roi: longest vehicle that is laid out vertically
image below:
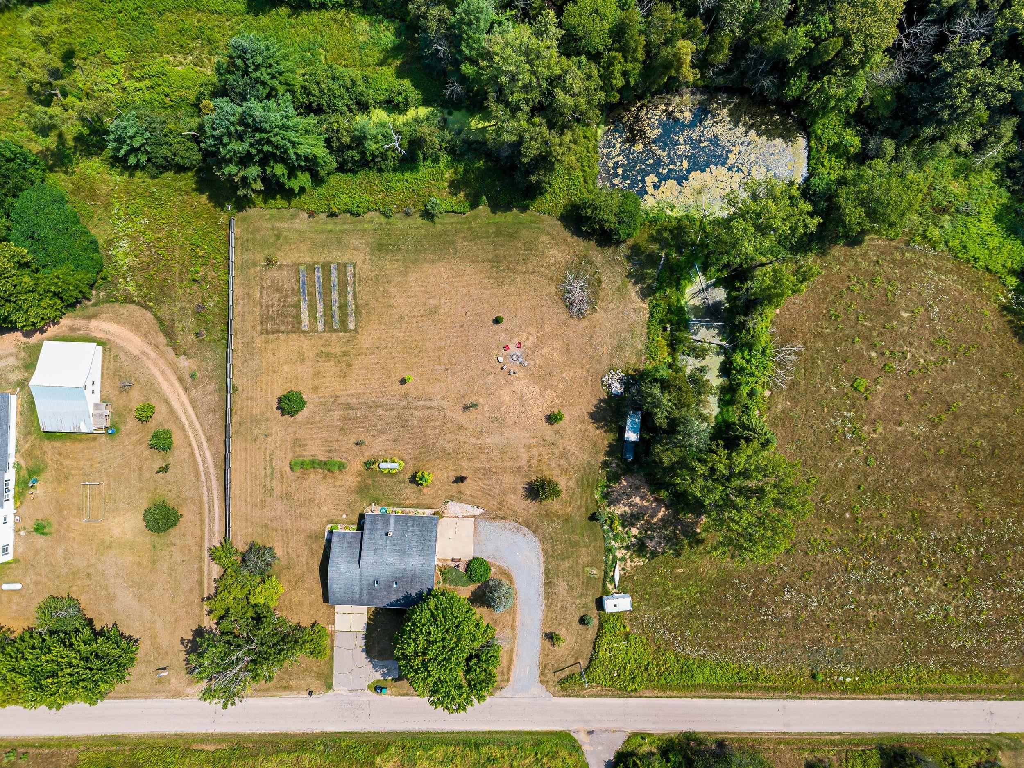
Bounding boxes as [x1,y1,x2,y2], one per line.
[622,408,642,459]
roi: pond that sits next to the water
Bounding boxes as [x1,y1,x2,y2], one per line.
[597,93,808,216]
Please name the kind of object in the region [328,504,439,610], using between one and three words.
house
